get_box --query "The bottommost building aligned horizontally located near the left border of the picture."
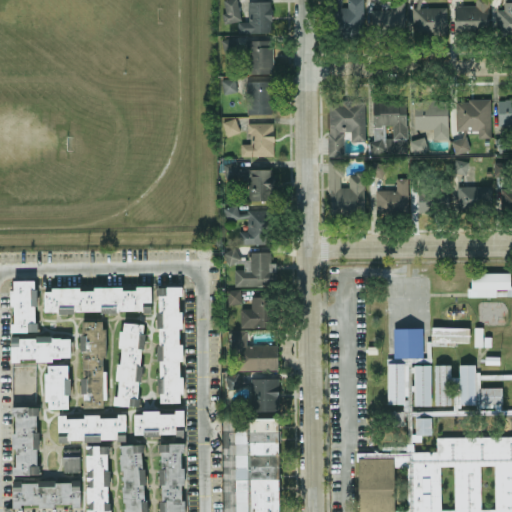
[12,481,81,510]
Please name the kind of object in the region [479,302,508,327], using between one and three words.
sports court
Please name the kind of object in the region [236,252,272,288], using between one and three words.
house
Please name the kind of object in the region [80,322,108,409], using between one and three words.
building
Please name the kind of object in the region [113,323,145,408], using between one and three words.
building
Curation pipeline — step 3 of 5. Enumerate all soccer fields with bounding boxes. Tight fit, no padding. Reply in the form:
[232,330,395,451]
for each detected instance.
[0,0,215,248]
